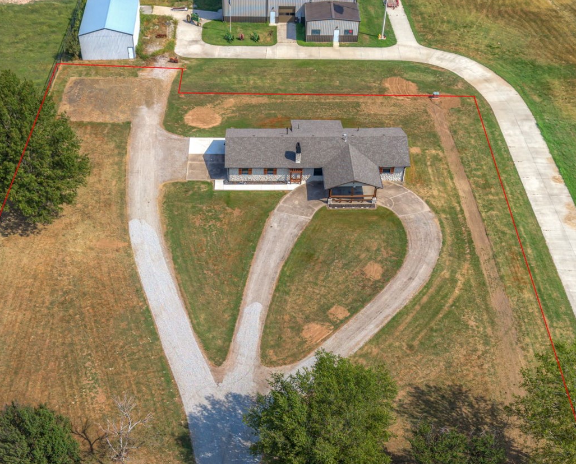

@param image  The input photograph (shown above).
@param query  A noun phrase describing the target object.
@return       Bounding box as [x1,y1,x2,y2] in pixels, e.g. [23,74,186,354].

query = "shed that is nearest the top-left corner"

[78,0,138,62]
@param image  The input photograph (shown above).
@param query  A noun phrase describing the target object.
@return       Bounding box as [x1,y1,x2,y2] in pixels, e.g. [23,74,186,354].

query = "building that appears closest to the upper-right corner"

[303,0,361,42]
